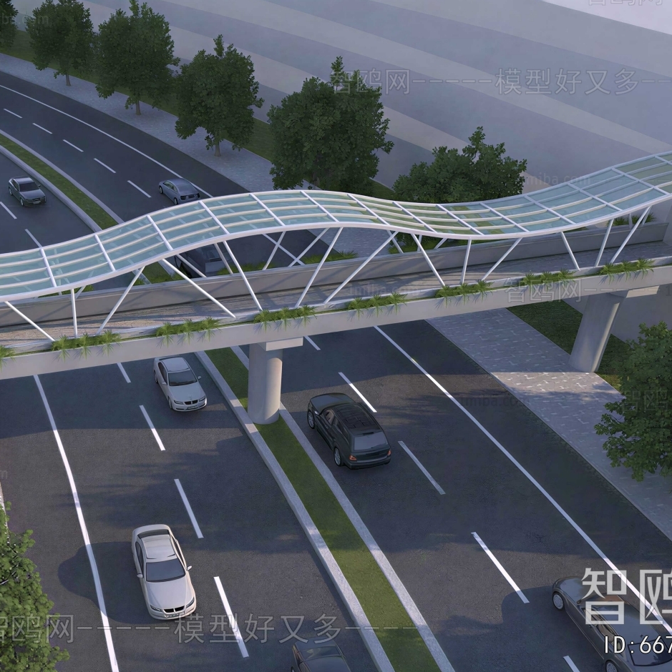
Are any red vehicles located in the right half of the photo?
No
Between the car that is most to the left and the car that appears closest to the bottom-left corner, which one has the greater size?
the car that appears closest to the bottom-left corner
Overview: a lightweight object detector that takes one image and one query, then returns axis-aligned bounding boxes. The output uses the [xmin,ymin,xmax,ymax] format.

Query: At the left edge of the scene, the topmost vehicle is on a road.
[9,174,48,206]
